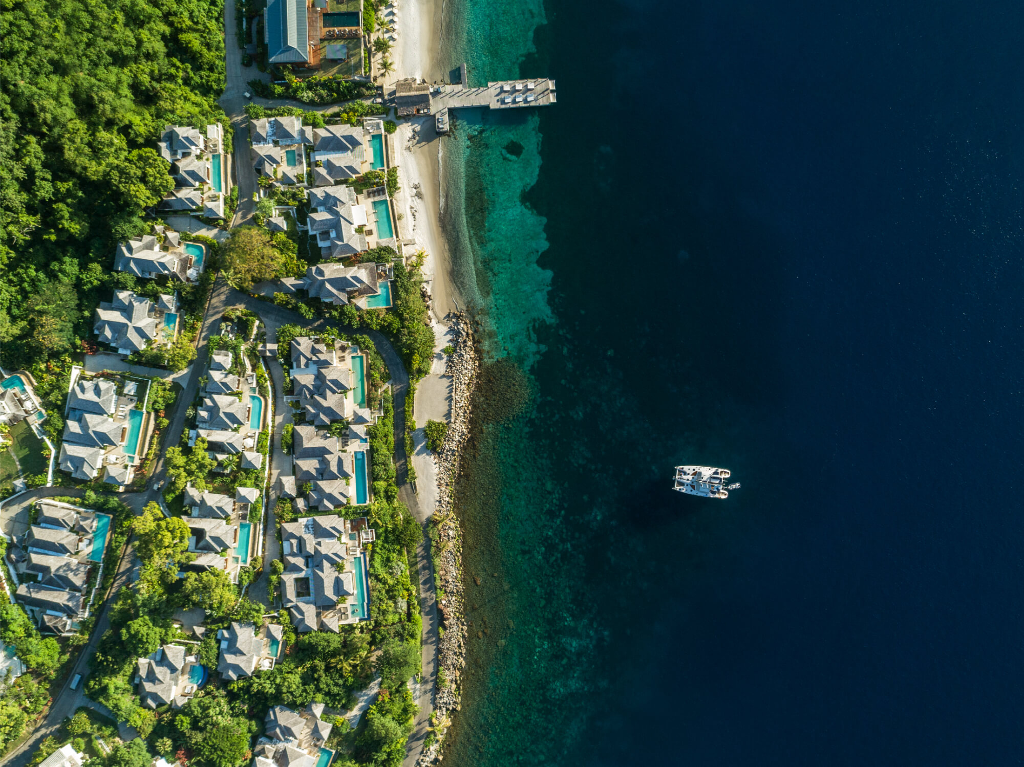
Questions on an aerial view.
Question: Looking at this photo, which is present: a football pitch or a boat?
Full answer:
There is a boat in the scene.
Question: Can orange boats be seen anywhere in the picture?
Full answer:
No, I find no orange boat anywhere in the image.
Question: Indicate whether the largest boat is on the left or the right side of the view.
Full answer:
The largest boat is on the right side of the image.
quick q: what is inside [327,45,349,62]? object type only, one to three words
building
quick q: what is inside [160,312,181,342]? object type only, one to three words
swimming pool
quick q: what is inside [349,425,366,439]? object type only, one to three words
gazebo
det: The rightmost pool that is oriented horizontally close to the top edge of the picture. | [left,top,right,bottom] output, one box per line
[323,11,360,27]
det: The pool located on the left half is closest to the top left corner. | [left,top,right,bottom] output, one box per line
[210,153,222,193]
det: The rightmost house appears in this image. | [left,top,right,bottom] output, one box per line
[395,80,432,121]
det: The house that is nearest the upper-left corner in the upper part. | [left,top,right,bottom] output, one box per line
[156,125,221,212]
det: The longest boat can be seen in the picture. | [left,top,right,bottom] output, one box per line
[672,466,730,499]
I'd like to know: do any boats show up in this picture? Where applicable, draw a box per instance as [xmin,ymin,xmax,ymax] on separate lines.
[672,466,730,499]
[728,483,741,489]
